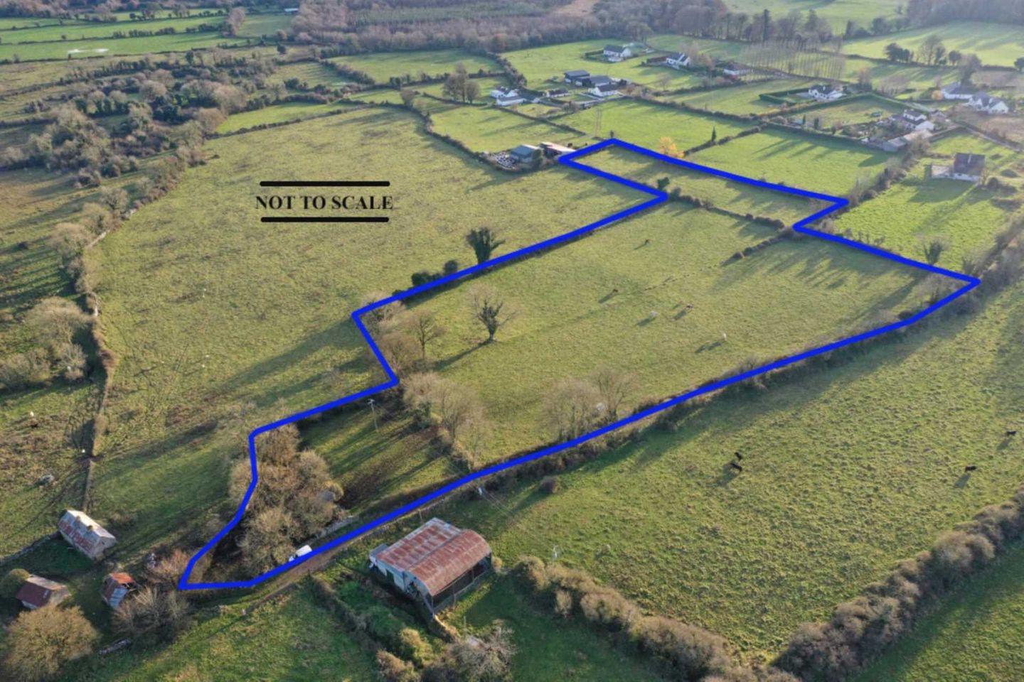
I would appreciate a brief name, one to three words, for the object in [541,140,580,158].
shed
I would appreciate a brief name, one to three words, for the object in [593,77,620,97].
house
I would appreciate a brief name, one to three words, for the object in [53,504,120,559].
house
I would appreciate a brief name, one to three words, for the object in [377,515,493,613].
barn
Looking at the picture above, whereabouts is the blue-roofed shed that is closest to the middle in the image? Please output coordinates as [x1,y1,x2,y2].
[510,145,537,164]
